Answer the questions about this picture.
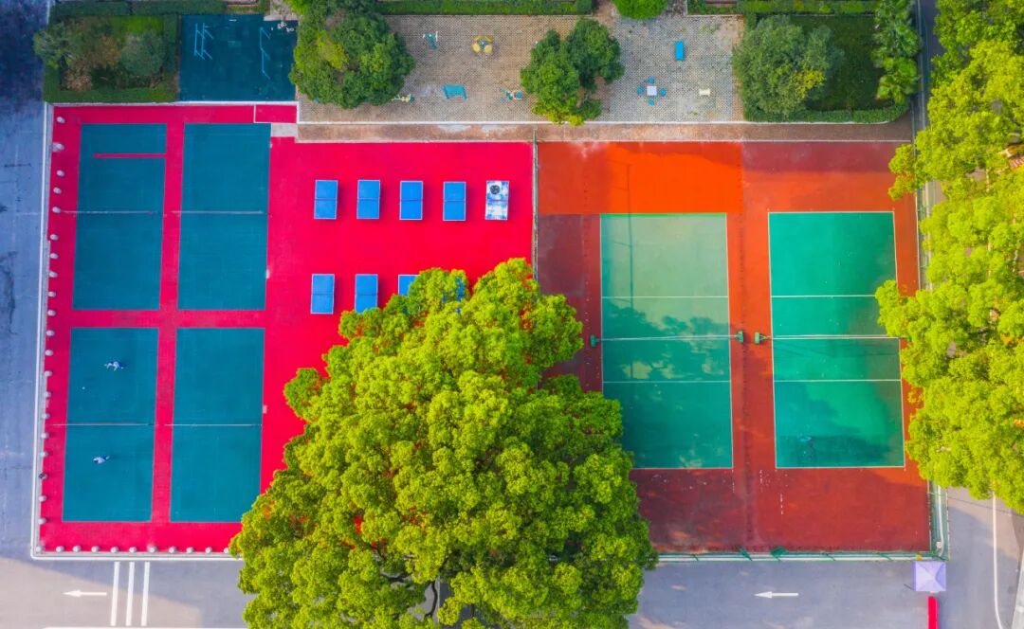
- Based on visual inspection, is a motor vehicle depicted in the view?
No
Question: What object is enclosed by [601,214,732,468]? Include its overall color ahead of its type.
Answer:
green sports court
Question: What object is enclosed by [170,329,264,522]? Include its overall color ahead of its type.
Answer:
blue sports court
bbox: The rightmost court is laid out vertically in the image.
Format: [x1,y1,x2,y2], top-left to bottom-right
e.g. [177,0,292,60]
[768,212,904,467]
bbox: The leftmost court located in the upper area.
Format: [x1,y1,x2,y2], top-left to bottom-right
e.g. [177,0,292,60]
[72,124,166,310]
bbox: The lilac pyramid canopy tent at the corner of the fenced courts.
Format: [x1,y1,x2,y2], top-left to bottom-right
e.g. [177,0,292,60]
[888,554,945,592]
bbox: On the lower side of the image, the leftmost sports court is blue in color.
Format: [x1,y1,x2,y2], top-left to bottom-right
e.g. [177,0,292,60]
[62,329,158,522]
